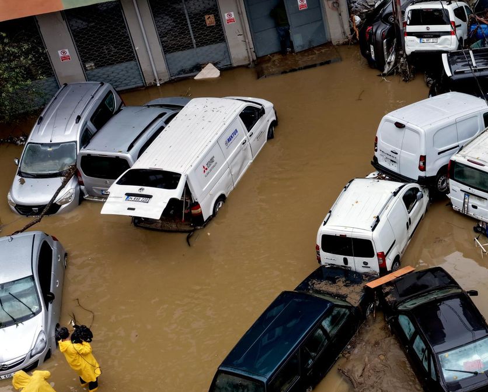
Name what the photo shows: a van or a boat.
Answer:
van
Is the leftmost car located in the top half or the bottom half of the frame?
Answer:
bottom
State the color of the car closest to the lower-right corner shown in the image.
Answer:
black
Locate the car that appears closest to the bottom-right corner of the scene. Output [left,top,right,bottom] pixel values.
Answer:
[379,265,488,392]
